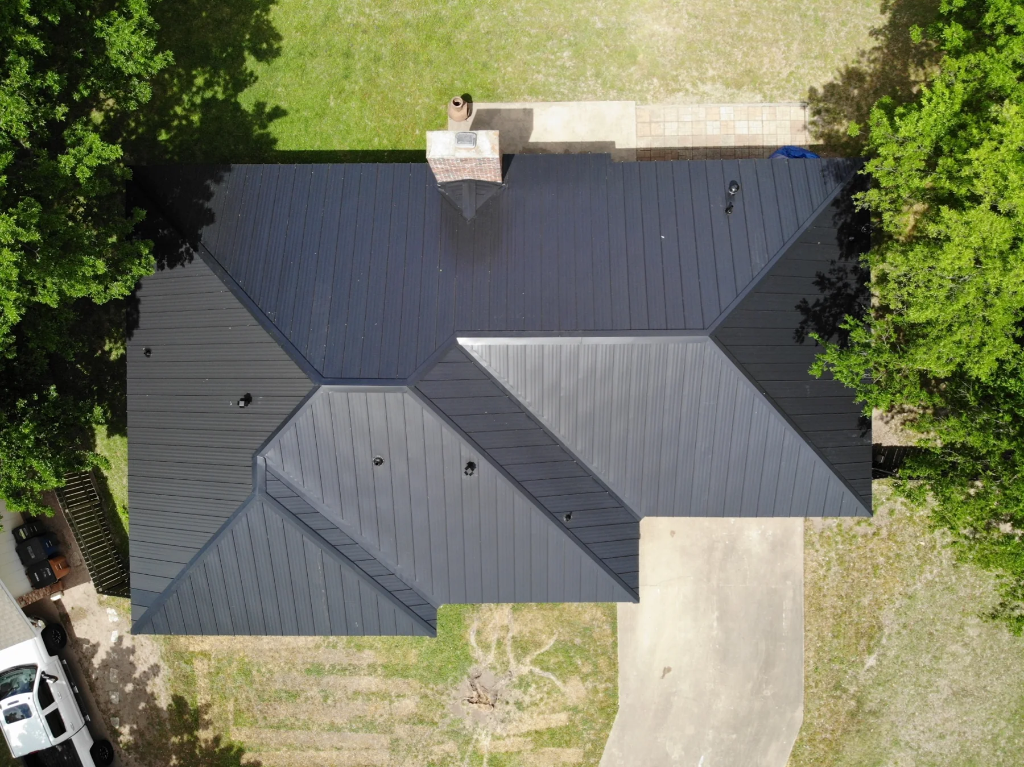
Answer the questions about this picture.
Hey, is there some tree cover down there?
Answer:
Yes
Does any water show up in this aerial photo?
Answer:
No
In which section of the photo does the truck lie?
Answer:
bottom left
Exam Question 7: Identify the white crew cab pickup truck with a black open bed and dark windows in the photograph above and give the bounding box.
[0,607,112,767]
